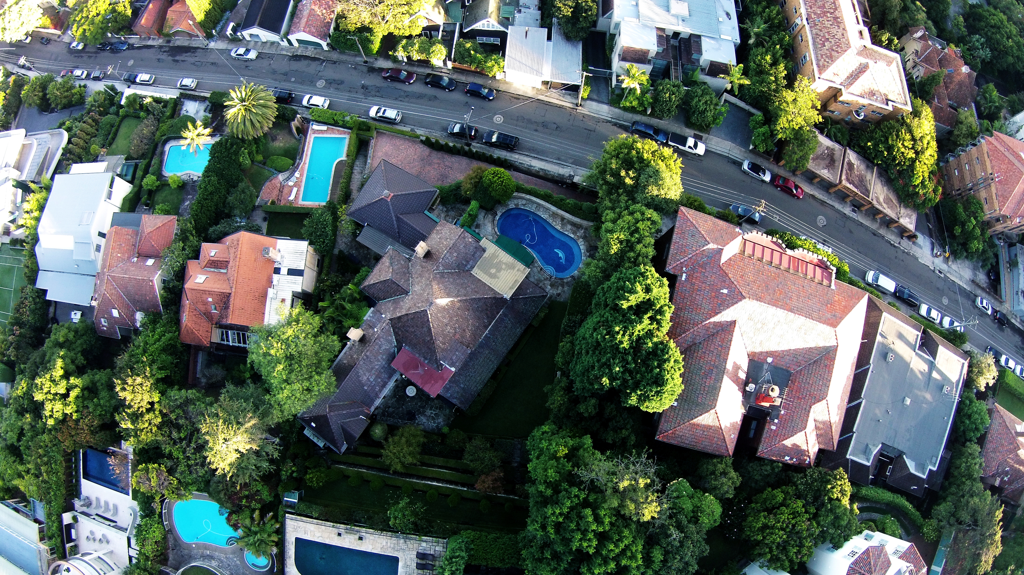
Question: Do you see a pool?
Yes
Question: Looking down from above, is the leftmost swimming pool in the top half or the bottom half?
bottom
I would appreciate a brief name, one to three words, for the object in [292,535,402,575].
swimming pool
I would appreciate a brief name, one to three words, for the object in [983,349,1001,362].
vehicle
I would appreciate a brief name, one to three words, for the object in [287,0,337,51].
building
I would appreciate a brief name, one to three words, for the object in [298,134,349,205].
swimming pool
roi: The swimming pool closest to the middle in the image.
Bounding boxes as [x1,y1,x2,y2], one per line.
[494,204,585,282]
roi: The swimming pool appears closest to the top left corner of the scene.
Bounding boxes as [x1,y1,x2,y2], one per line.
[160,138,218,177]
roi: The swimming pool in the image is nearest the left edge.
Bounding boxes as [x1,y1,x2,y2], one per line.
[81,446,132,499]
